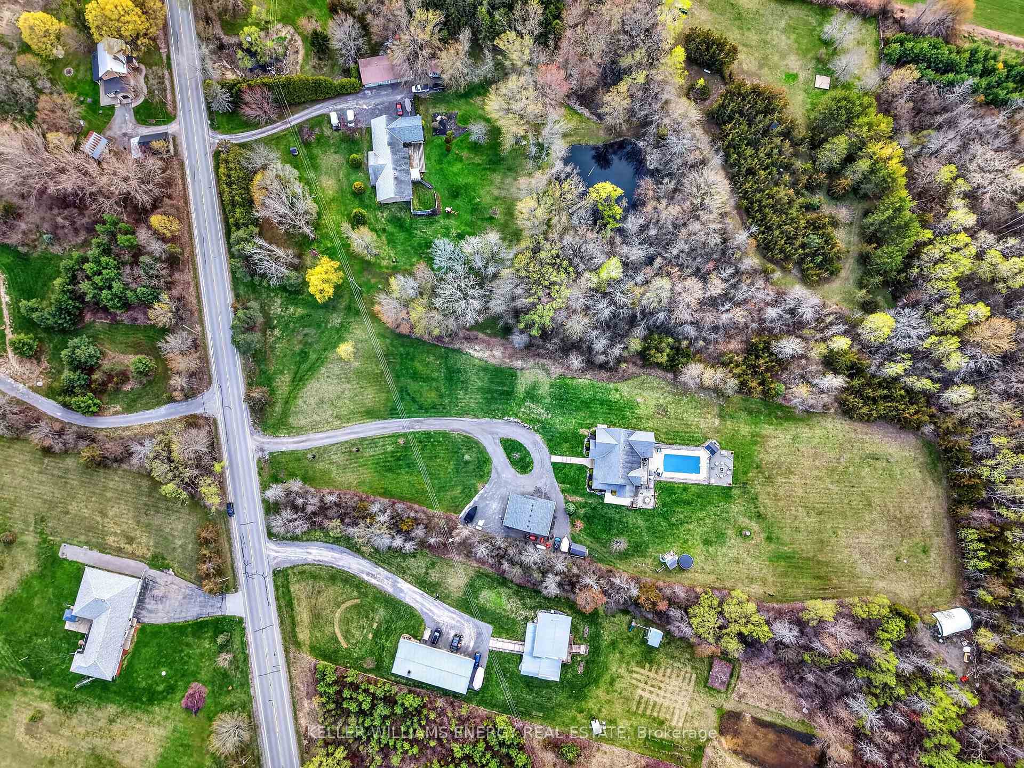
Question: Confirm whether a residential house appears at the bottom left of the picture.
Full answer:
Yes, a residential house appears at the bottom left of the picture.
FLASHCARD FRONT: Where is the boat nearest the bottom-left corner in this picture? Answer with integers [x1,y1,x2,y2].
[474,667,487,694]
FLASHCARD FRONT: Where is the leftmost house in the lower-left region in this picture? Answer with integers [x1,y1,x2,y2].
[70,566,145,681]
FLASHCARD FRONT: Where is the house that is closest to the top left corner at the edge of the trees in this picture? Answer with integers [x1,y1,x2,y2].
[92,40,137,99]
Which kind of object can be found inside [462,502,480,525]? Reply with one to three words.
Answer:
boat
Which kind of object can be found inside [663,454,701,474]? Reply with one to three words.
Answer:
swimming pool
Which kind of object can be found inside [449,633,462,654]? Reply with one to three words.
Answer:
vehicle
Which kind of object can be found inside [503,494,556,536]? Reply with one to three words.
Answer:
building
